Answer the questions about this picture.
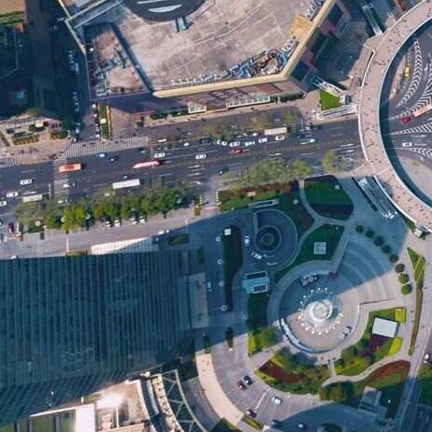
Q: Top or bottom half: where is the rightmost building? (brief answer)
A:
bottom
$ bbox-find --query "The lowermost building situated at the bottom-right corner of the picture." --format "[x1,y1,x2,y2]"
[360,385,388,421]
